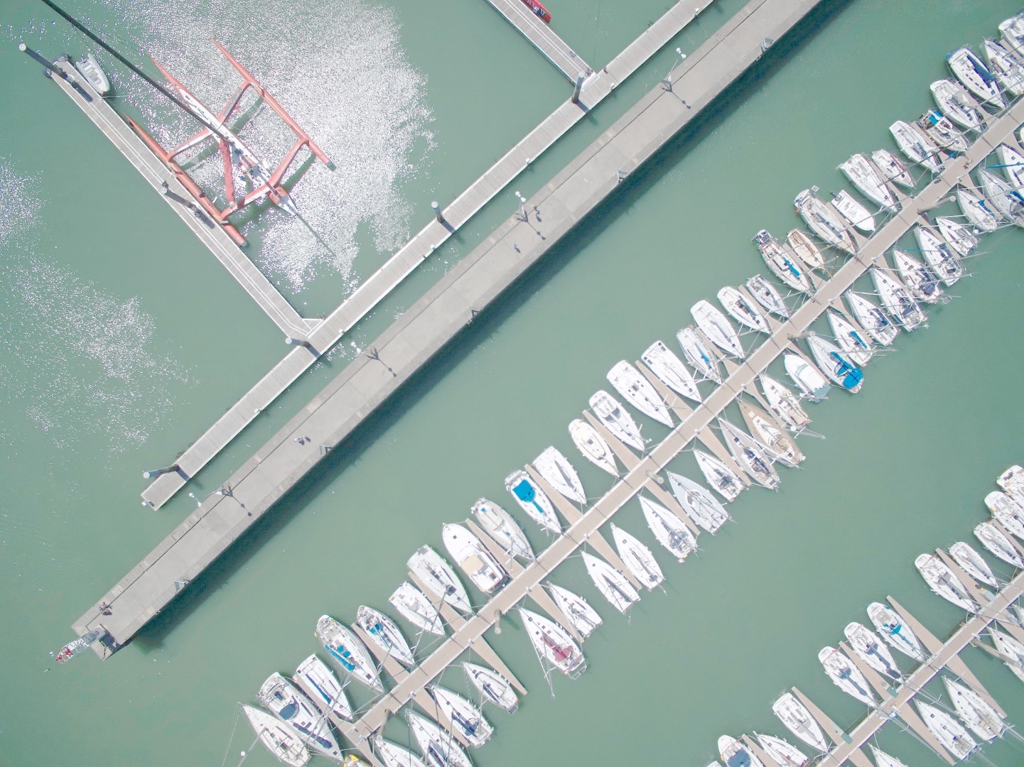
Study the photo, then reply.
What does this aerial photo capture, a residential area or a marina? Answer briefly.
marina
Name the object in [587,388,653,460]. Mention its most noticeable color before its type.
white boat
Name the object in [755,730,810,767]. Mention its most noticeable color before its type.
white boat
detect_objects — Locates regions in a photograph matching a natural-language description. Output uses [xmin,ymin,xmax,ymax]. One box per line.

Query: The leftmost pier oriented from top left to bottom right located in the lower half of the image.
[293,674,350,734]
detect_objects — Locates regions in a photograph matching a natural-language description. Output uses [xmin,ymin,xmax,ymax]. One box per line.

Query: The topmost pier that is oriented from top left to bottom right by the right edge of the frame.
[953,82,1001,130]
